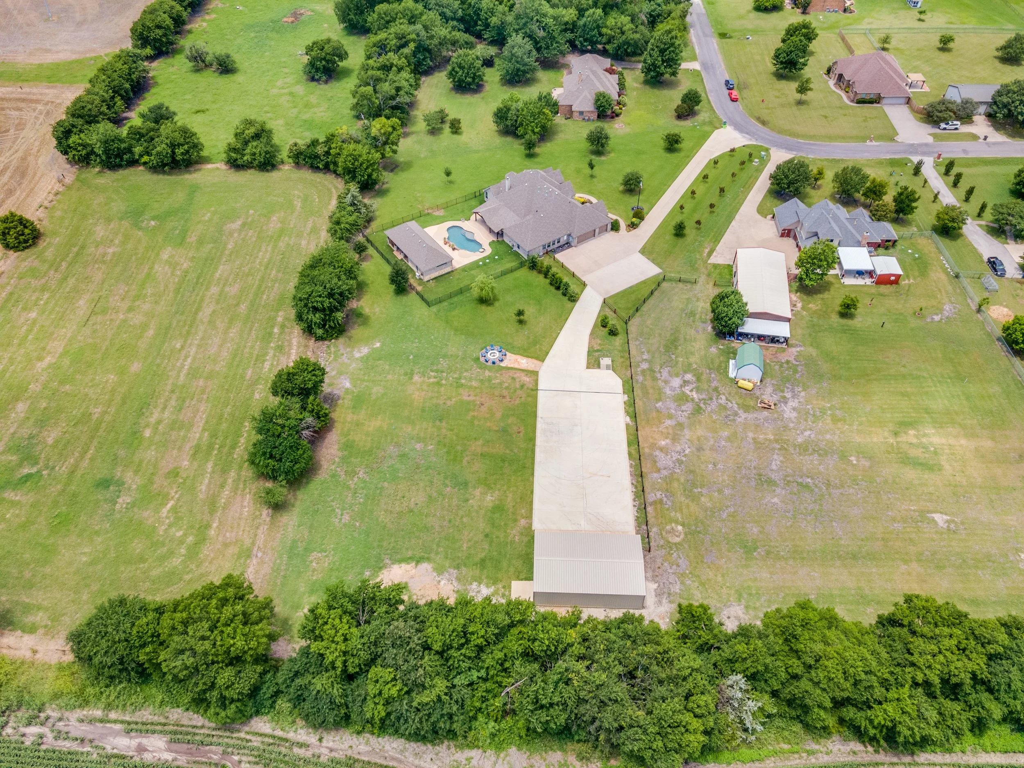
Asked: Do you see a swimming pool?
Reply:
Yes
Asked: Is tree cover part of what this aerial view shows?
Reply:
Yes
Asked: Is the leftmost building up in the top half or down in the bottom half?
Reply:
top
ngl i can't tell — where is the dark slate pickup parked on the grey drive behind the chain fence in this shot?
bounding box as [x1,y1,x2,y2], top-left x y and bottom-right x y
[984,253,1012,279]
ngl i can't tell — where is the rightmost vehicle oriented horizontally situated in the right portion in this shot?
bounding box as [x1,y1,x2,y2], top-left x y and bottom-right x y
[938,118,964,130]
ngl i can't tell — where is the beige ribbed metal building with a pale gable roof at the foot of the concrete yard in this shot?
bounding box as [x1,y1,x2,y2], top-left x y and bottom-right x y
[534,526,648,610]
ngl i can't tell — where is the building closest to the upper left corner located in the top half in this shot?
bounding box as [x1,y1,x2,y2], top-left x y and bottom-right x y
[384,221,454,282]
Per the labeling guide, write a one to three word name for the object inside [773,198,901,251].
house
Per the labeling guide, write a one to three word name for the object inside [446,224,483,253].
swimming pool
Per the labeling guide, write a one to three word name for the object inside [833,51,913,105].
house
